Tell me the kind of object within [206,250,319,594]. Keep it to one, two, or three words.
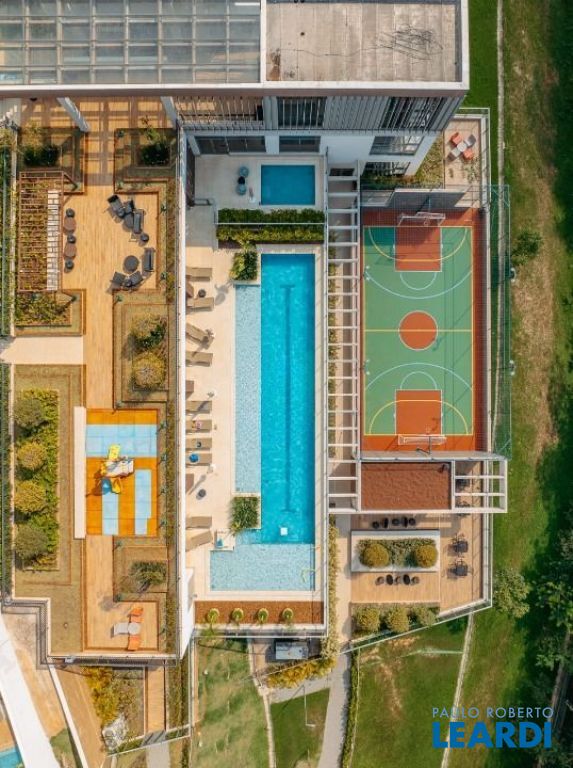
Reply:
swimming pool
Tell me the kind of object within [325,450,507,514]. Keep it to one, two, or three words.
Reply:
building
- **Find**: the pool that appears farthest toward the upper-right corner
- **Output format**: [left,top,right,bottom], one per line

[258,162,318,205]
